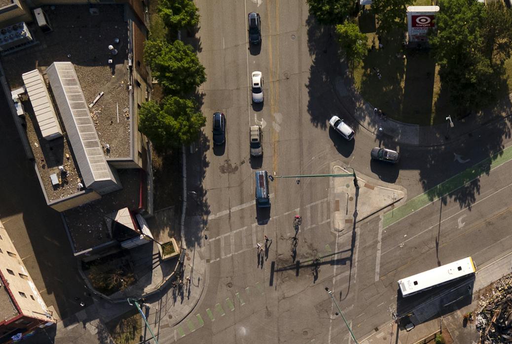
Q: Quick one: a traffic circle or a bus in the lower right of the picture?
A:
bus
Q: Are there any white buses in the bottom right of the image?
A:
Yes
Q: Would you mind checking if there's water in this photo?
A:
No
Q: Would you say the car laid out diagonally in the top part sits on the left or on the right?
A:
right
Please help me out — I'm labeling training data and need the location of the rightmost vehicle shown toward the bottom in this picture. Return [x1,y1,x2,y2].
[399,254,479,298]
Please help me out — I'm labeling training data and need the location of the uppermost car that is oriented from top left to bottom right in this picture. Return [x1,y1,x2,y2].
[328,113,356,142]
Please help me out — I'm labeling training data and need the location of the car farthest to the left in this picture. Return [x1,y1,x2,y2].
[211,112,226,145]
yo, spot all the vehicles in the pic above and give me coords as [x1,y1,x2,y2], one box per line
[248,125,262,157]
[399,254,479,298]
[250,71,264,104]
[328,113,356,142]
[369,147,401,163]
[247,10,262,45]
[211,112,226,145]
[255,169,270,208]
